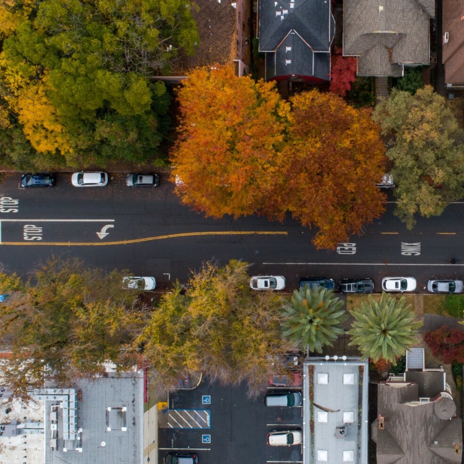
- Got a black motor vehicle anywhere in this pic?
Yes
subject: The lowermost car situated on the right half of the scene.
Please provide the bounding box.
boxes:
[267,429,303,448]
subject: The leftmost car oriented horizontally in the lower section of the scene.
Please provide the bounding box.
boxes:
[121,275,159,291]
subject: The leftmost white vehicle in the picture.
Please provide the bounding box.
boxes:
[72,170,109,188]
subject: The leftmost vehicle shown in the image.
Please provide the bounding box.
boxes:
[22,172,55,189]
